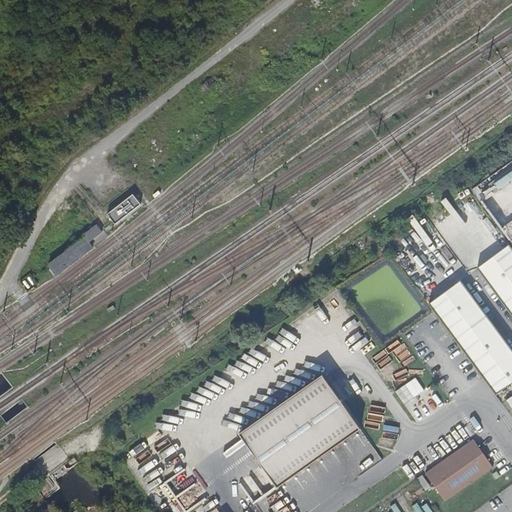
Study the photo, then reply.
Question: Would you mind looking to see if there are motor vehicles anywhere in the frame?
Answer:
Yes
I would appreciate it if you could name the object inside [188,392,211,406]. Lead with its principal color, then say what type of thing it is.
white vehicle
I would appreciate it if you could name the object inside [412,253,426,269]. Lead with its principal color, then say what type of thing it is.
white vehicle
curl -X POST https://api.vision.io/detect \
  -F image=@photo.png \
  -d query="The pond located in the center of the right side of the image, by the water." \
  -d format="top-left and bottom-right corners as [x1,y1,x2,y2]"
[349,258,428,344]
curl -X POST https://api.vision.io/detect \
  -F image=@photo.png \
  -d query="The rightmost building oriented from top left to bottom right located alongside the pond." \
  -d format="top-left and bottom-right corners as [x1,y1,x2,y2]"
[430,282,512,394]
